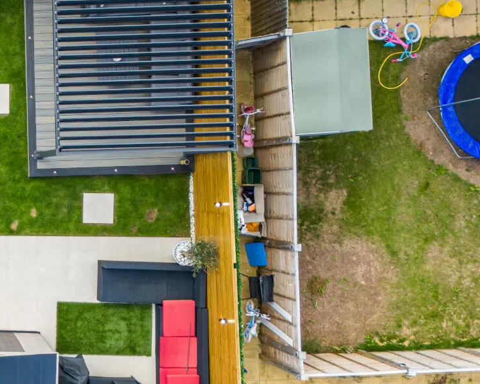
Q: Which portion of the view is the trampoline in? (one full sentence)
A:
Look in the top right portion of the view to spot the trampoline.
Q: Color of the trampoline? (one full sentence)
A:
In this view, the trampoline is blue.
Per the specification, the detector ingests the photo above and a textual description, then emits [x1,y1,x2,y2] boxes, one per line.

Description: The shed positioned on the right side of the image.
[291,28,373,137]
